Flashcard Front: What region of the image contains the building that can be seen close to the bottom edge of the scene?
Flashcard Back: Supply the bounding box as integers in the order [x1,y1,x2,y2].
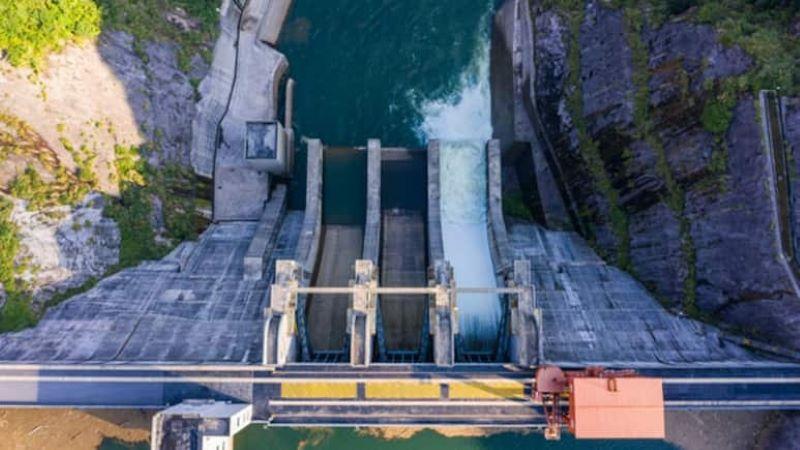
[152,405,259,450]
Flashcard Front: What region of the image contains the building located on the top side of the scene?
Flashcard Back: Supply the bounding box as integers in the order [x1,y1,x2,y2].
[245,121,286,171]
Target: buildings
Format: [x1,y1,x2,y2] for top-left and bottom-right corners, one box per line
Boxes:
[152,405,259,450]
[245,121,286,171]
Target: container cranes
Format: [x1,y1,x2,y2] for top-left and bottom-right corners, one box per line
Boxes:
[526,363,667,441]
